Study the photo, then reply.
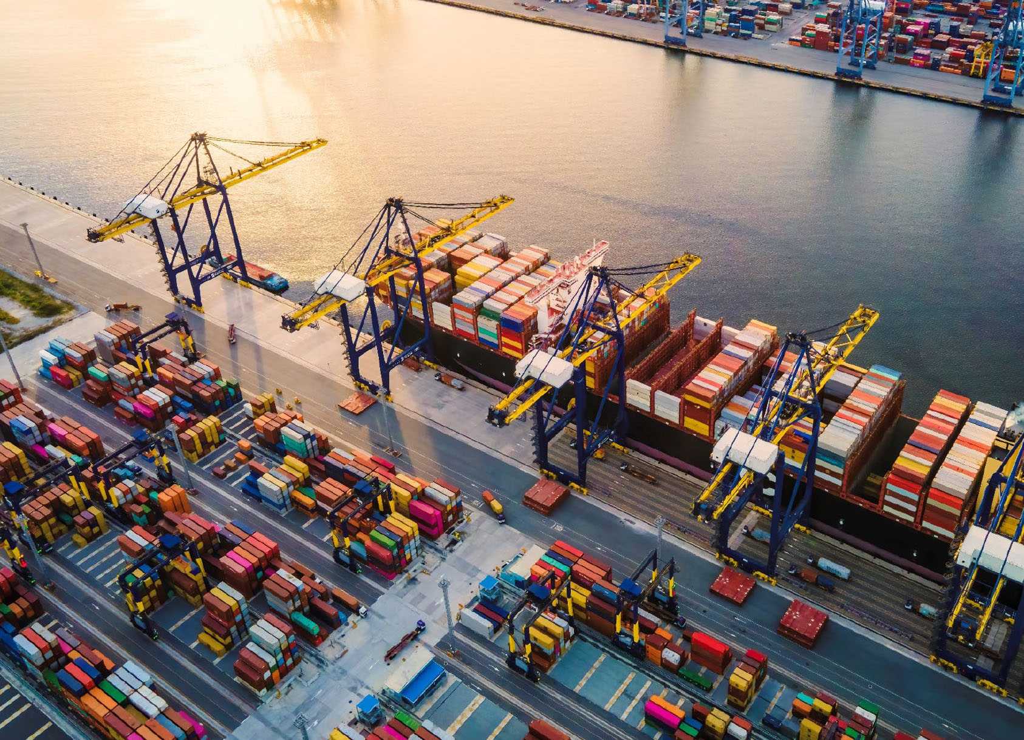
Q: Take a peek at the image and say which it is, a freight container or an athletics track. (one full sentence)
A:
Looking from above, you can make out a freight container.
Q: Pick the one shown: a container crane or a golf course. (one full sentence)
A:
The one in the frame is a container crane.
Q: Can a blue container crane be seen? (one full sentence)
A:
Yes, I can see a blue container crane in this picture.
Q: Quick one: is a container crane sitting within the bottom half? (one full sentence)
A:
Yes, there is a container crane within the bottom half.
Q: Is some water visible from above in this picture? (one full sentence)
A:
Yes, some water is visible.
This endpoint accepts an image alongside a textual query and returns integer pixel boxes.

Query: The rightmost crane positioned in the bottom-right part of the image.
[935,470,1024,694]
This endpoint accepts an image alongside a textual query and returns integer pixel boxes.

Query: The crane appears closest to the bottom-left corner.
[0,521,35,581]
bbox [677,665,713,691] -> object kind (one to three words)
shipping container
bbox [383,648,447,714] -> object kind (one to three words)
building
